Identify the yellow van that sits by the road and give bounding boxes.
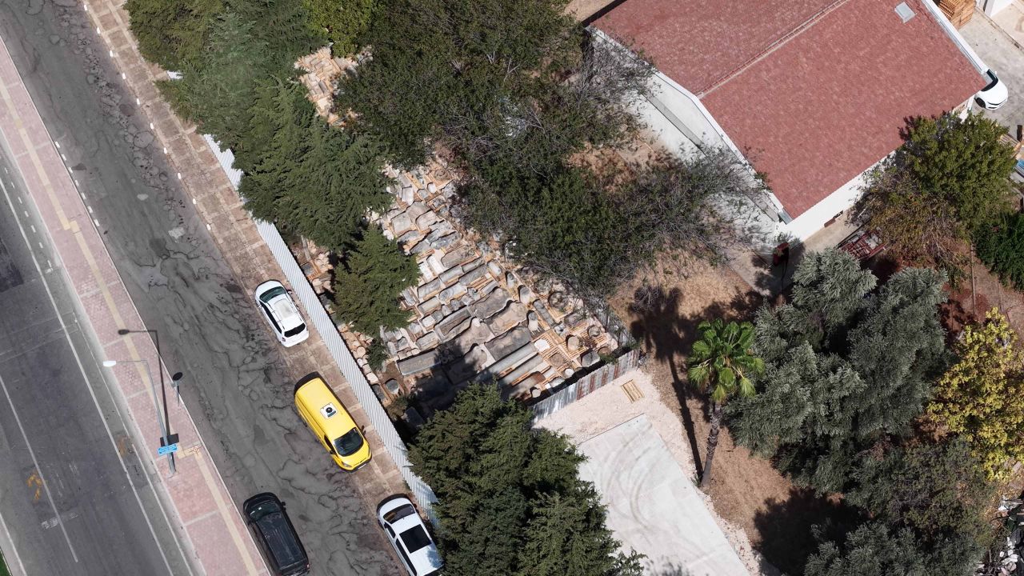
[295,374,367,470]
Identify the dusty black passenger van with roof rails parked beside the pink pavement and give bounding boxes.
[245,498,313,576]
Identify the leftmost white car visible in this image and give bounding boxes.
[255,283,310,349]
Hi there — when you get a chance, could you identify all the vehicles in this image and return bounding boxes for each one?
[245,498,313,576]
[255,283,310,349]
[973,52,1010,109]
[295,374,367,470]
[377,496,441,576]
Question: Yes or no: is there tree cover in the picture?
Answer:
Yes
